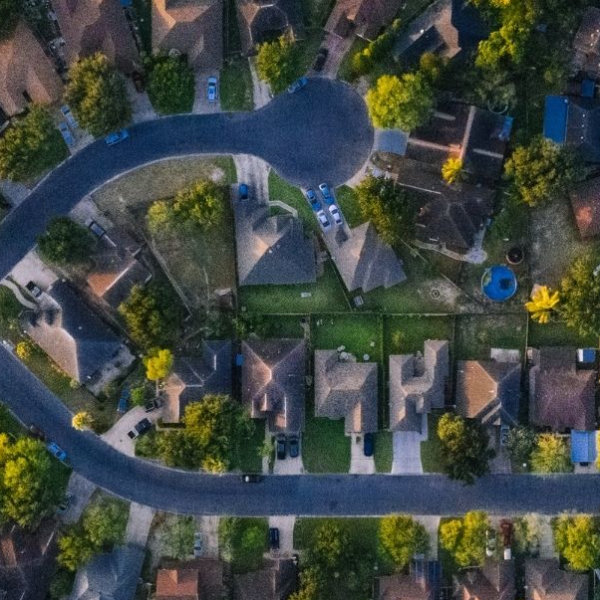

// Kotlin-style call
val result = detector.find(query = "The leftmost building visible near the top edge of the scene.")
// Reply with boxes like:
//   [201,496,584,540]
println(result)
[0,24,64,113]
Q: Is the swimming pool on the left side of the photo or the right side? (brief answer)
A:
right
